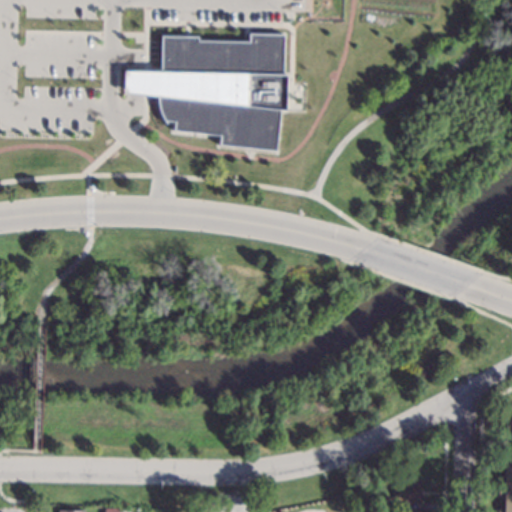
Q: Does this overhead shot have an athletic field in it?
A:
No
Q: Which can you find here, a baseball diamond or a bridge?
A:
bridge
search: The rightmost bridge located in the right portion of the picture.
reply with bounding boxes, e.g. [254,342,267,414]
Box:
[352,231,484,303]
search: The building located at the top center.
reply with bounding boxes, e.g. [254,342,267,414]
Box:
[124,34,288,150]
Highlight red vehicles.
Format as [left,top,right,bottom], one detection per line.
[88,87,94,100]
[276,12,281,24]
[269,11,275,24]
